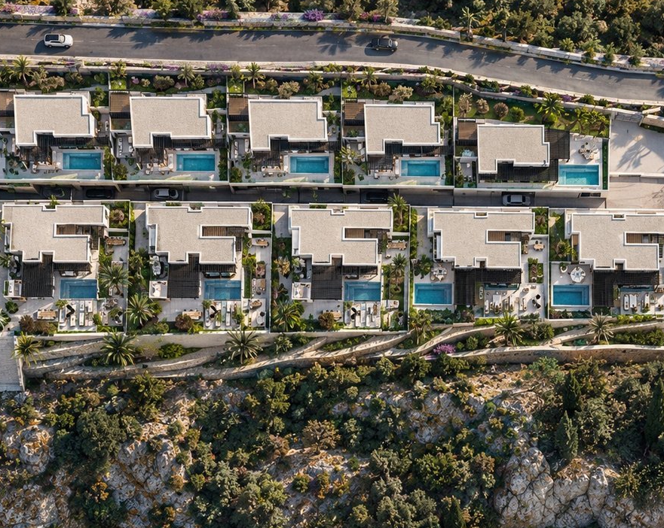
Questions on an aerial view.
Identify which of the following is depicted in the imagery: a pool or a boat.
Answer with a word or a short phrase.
pool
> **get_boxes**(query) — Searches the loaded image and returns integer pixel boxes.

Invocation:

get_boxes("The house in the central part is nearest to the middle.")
[287,205,397,307]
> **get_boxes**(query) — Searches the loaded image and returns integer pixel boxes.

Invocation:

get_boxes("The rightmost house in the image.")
[567,212,664,313]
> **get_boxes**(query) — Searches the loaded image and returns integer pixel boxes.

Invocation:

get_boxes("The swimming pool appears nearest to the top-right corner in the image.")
[556,163,602,186]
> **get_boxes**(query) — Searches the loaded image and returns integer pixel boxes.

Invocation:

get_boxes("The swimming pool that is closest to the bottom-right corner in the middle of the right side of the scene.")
[551,283,592,308]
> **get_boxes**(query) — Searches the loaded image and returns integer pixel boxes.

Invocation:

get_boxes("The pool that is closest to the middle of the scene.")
[347,280,387,303]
